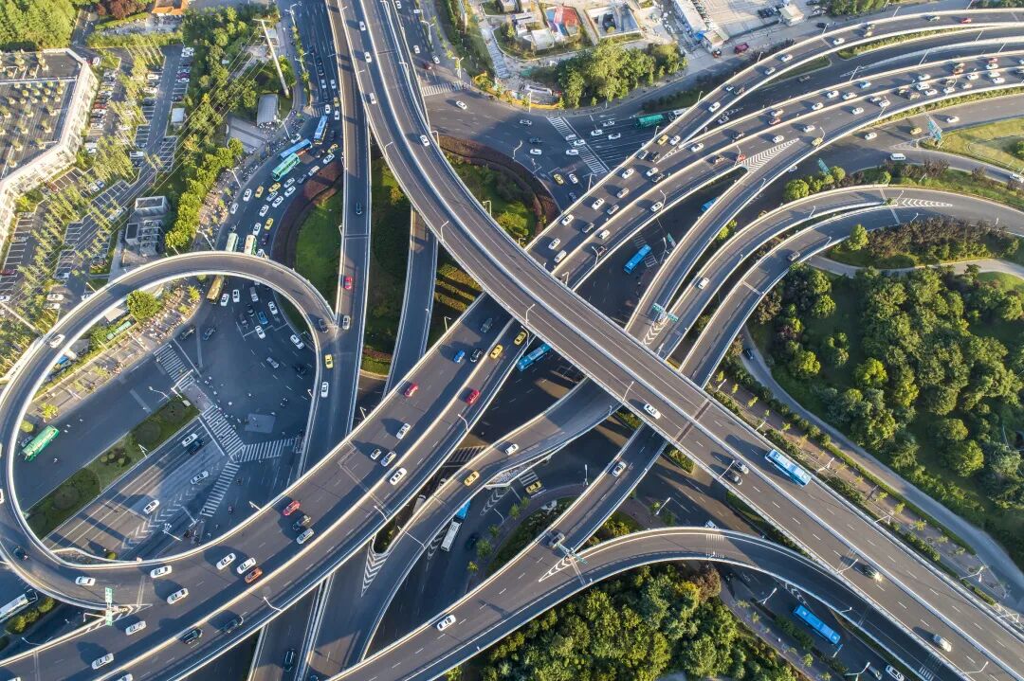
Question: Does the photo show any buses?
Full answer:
Yes, a bus is visible in the scene.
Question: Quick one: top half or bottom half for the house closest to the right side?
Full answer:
The house closest to the right side sits in the top half of the picture.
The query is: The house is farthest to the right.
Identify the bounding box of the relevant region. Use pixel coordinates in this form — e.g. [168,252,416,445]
[776,4,803,31]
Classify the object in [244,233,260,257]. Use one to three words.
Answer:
vehicle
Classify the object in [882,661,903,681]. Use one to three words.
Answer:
car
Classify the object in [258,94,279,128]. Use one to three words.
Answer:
shed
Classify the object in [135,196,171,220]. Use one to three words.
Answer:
house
